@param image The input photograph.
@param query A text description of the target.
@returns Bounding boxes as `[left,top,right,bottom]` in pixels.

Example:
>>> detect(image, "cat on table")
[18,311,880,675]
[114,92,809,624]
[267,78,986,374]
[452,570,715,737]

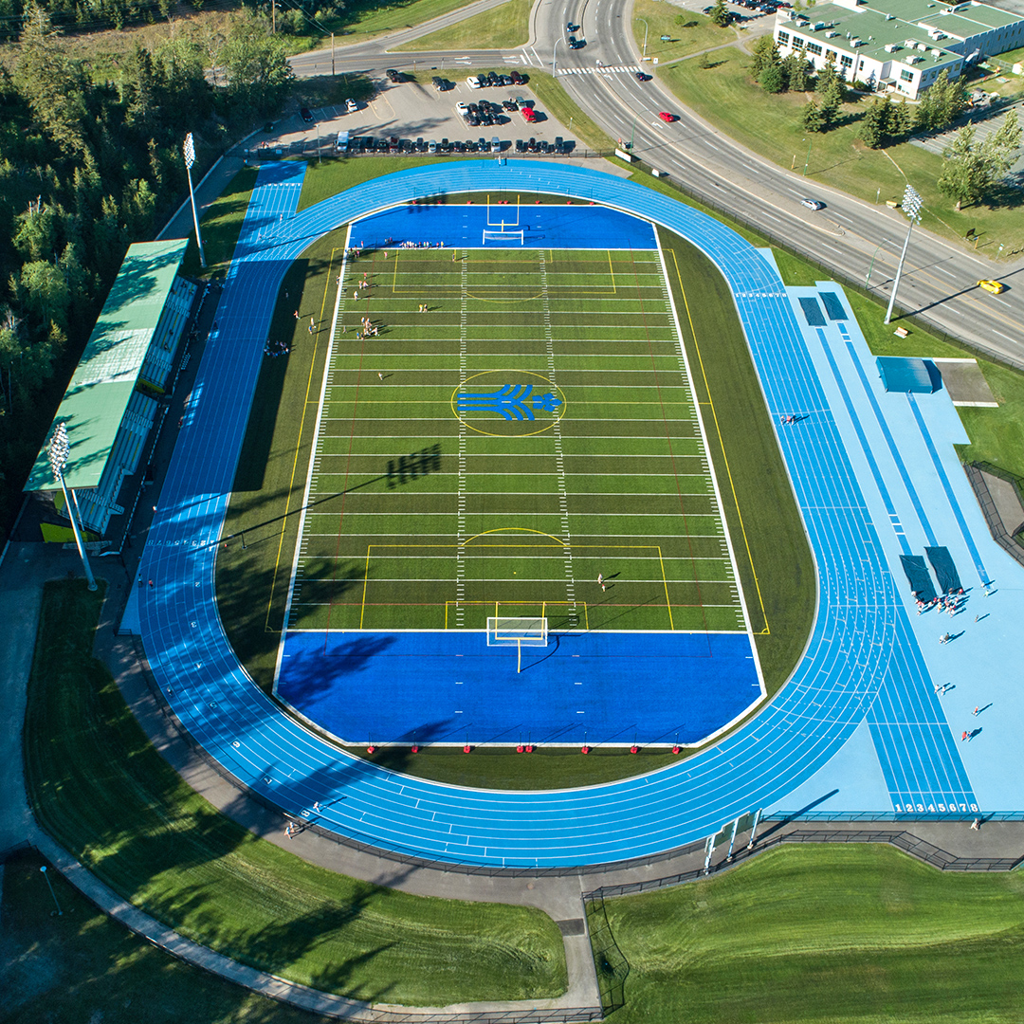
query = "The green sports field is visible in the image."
[214,190,817,791]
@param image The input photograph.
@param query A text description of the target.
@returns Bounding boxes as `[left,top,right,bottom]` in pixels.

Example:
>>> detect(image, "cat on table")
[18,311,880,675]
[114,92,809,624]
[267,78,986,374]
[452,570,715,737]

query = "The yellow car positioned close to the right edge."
[978,275,1005,291]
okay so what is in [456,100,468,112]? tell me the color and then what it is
white vehicle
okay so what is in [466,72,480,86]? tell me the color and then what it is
white car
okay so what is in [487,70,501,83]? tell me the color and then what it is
black vehicle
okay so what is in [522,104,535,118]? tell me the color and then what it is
red vehicle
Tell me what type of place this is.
sports ground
